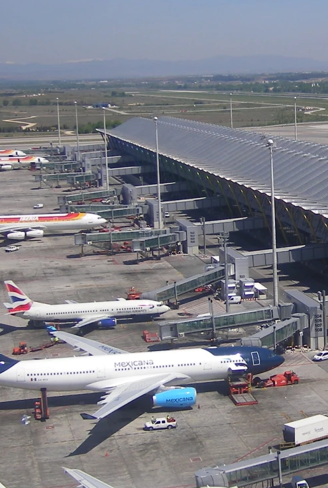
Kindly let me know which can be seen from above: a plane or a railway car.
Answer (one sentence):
Visible in the photo is a plane.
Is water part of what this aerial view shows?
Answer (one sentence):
No, there's no water in this view.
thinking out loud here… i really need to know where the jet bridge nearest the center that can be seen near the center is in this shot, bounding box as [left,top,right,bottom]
[131,232,189,261]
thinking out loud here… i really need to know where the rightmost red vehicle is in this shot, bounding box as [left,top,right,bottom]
[255,368,299,389]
